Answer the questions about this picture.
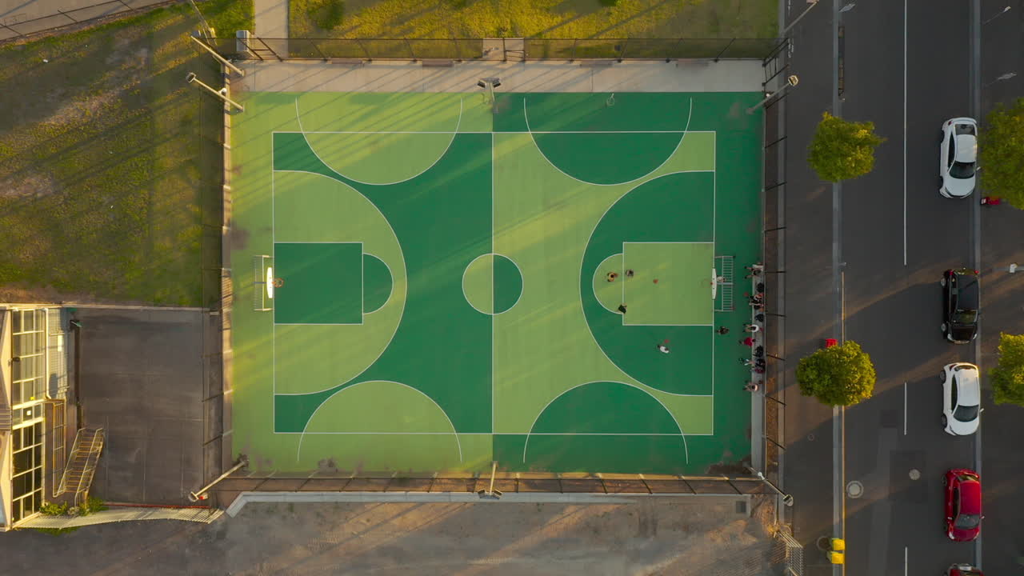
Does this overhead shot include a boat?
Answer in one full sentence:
No, no boat can be seen from above.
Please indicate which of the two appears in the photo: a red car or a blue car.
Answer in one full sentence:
The image shows a red car.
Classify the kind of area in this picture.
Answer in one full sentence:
The area seen from above is a sports ground.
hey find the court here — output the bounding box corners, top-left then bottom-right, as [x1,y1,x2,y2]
[233,92,762,472]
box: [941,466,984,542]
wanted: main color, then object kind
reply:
red car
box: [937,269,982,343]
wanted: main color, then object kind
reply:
black car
